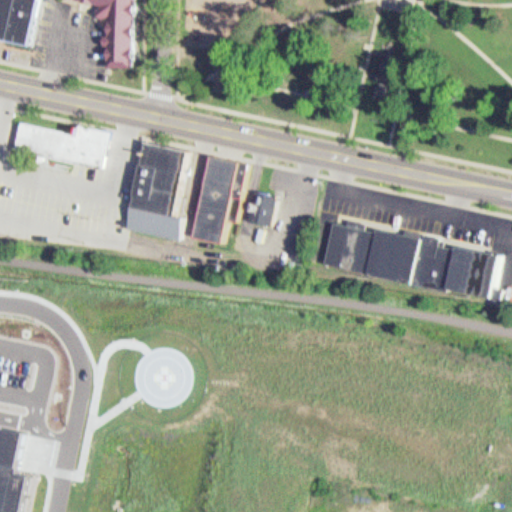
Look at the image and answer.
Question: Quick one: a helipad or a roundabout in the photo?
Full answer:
The one in the frame is a helipad.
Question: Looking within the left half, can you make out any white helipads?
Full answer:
Yes, a white helipad appears within the left half.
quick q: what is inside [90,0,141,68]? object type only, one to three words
building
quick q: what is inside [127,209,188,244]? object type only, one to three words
shed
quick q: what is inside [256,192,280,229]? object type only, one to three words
building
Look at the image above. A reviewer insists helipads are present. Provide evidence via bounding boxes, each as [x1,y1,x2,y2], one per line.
[136,349,194,407]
